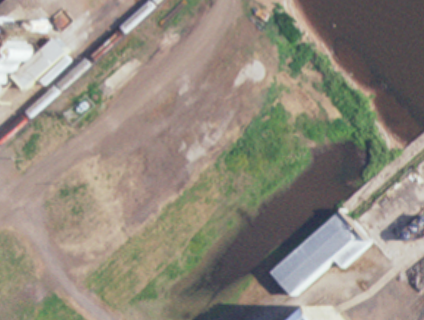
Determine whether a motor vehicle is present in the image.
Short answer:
Yes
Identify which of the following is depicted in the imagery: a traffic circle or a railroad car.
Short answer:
railroad car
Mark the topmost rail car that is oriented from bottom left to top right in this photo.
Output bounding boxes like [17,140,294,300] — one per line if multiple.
[120,0,156,34]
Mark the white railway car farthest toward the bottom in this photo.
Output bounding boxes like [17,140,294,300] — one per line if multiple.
[22,89,60,120]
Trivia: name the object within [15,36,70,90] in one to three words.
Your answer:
shed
